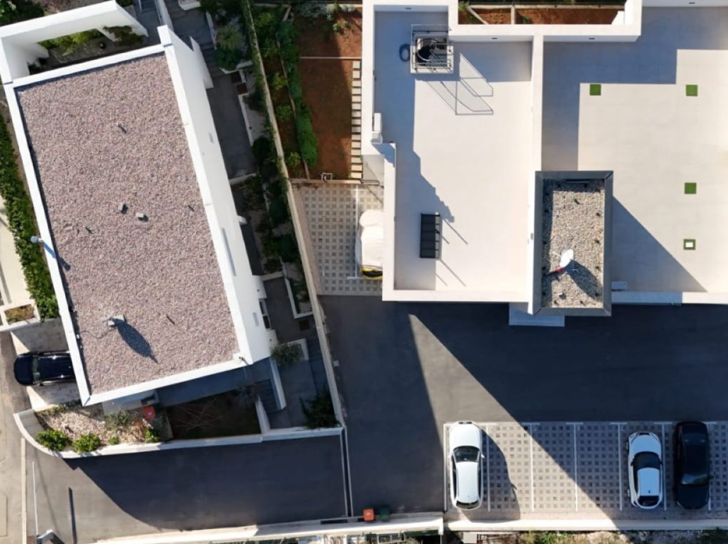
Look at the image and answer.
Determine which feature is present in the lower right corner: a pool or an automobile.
automobile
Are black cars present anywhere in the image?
Yes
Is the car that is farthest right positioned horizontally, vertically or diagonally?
vertically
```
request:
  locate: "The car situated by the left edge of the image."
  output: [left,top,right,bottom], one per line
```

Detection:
[13,350,80,390]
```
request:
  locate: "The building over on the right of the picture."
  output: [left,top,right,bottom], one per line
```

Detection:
[362,0,728,327]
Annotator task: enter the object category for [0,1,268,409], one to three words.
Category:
house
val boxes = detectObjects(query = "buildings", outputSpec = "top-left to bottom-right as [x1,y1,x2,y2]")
[0,1,268,409]
[362,0,728,327]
